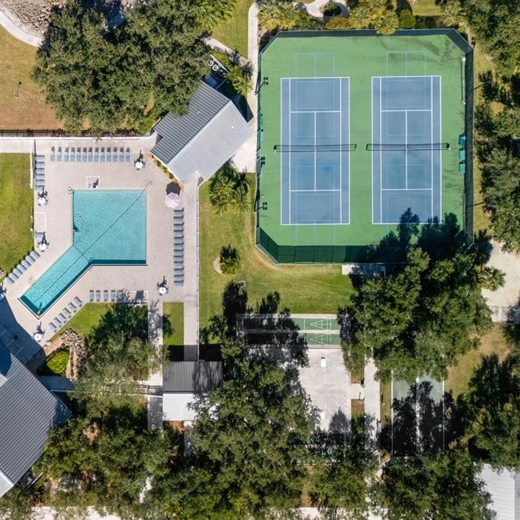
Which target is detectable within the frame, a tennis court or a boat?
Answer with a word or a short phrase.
tennis court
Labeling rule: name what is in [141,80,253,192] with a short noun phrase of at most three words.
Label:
building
